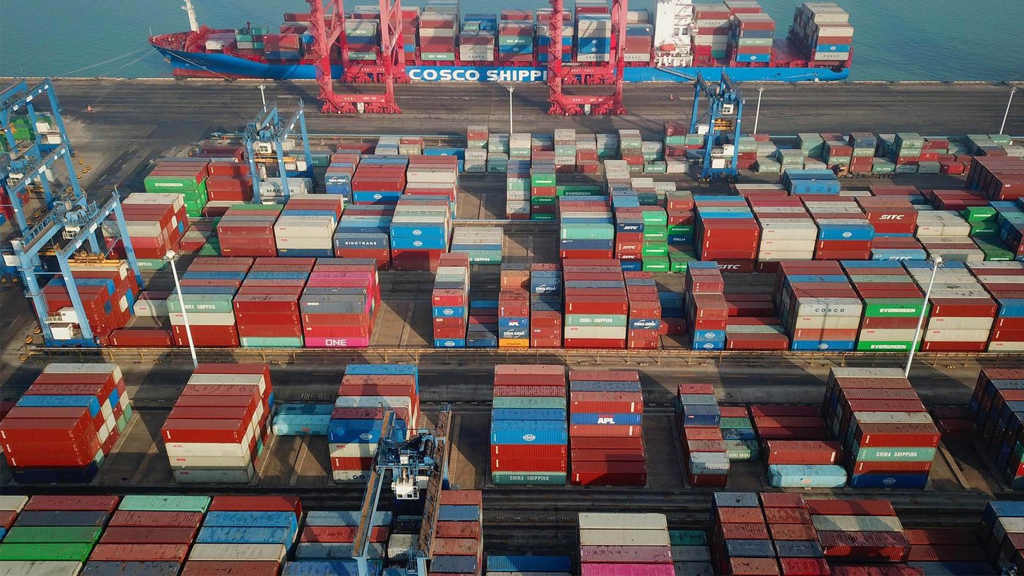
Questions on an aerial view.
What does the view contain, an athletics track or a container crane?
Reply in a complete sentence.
The one in the frame is a container crane.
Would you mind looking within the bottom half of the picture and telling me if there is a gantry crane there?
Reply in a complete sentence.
Yes, I can see a gantry crane within the bottom half of the picture.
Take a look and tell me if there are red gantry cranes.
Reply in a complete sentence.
Yes, I can see a red gantry crane in this picture.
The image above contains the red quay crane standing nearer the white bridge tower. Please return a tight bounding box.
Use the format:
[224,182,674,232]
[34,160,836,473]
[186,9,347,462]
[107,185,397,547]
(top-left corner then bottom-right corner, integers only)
[541,0,630,114]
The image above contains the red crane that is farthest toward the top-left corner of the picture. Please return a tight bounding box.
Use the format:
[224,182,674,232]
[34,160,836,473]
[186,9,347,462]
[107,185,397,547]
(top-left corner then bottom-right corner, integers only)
[302,0,415,114]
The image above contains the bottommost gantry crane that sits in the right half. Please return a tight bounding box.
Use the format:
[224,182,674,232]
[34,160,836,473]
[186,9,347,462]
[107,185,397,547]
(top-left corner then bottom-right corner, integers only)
[692,65,750,178]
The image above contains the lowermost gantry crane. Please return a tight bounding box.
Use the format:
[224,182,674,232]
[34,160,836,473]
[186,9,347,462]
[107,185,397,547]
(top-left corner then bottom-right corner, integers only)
[349,396,459,576]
